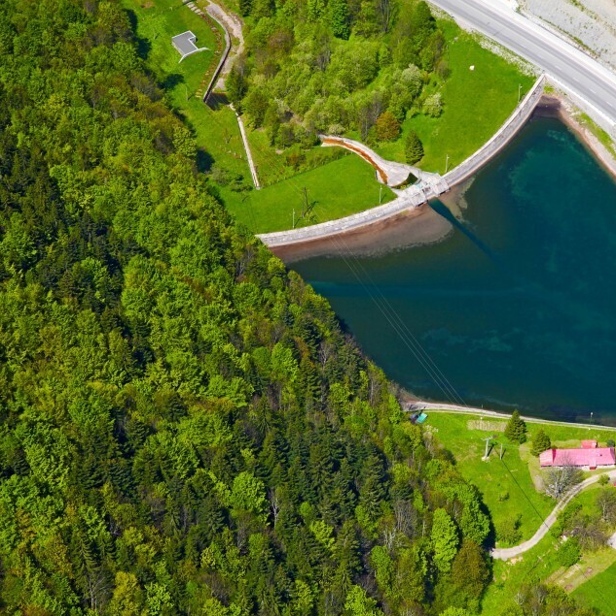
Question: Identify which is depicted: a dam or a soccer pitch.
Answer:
dam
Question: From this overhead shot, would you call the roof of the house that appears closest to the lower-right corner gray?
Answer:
No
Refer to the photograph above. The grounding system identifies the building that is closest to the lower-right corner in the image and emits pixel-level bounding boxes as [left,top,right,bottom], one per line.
[539,441,615,475]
